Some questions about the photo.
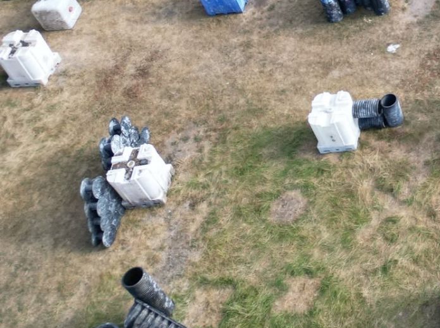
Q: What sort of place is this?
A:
industrial area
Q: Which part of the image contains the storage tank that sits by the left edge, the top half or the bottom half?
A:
top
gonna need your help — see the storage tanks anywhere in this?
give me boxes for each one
[114,150,173,208]
[0,37,57,86]
[312,97,359,154]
